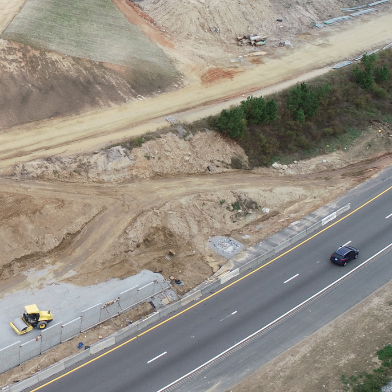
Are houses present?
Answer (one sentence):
No, there is no house in the image.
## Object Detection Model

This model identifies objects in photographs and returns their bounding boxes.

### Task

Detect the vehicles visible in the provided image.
[331,247,361,267]
[7,305,55,336]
